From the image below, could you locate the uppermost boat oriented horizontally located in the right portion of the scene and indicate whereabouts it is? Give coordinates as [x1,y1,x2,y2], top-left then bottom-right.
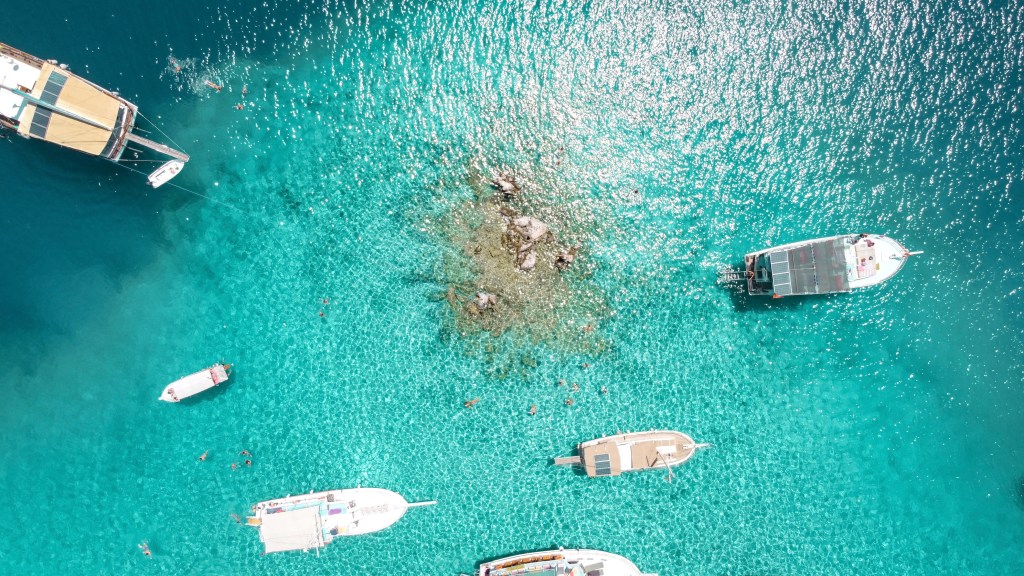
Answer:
[718,232,924,298]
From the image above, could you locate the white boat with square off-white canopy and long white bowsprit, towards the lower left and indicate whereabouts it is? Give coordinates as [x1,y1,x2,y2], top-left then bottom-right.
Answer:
[245,485,438,558]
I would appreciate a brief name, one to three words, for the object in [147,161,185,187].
boat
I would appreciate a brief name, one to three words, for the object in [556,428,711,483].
boat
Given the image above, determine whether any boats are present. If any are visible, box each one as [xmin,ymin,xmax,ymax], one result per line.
[0,42,224,205]
[556,428,711,483]
[147,161,185,187]
[474,545,658,576]
[245,485,438,558]
[718,232,924,298]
